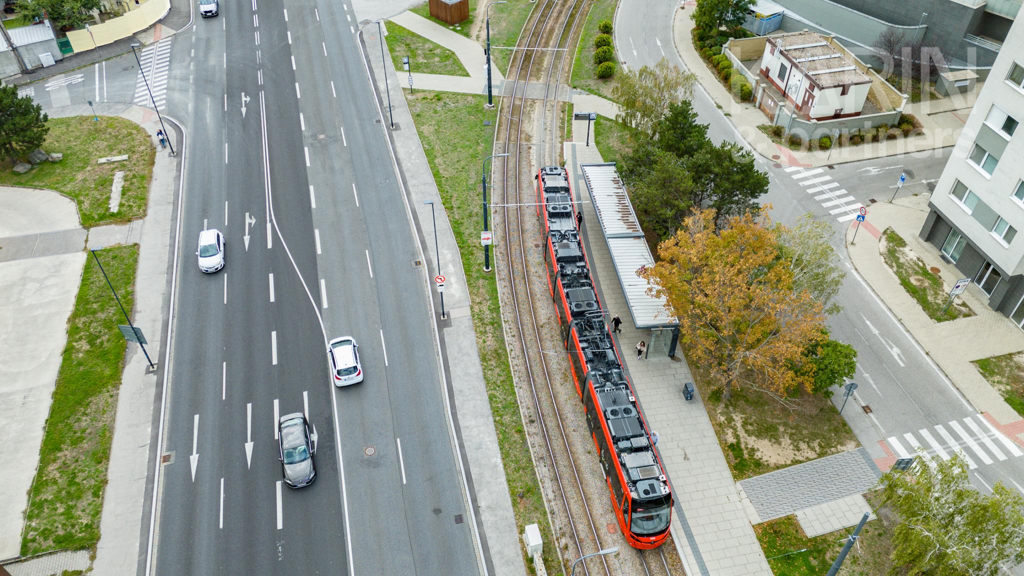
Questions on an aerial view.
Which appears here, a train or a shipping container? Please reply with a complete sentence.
It is a train that can be seen here.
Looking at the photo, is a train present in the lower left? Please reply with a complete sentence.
No, no train can be made out in the lower left.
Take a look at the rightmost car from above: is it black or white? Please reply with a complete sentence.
The rightmost car is white.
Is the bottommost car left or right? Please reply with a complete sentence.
The bottommost car sits on the left side.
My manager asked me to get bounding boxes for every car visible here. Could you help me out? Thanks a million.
[197,0,219,15]
[192,226,225,272]
[274,410,316,488]
[323,330,362,387]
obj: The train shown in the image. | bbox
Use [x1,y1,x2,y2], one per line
[535,166,677,548]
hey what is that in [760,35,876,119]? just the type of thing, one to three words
house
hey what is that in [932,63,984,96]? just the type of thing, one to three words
shed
